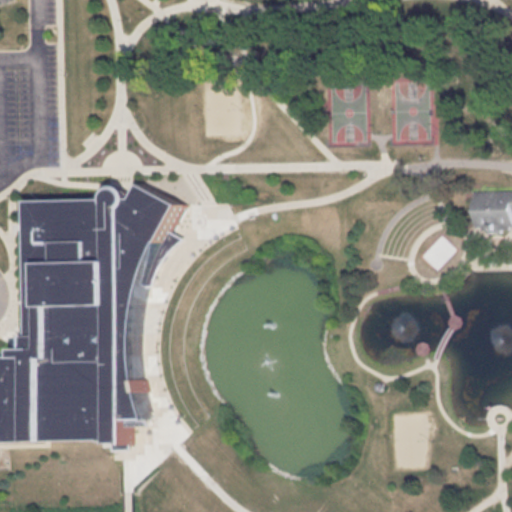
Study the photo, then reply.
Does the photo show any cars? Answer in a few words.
No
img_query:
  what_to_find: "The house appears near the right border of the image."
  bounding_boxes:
[470,191,512,234]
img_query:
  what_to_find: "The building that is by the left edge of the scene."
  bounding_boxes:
[0,186,188,450]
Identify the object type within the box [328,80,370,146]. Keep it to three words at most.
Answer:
basketball court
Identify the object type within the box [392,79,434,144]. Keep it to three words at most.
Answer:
basketball court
